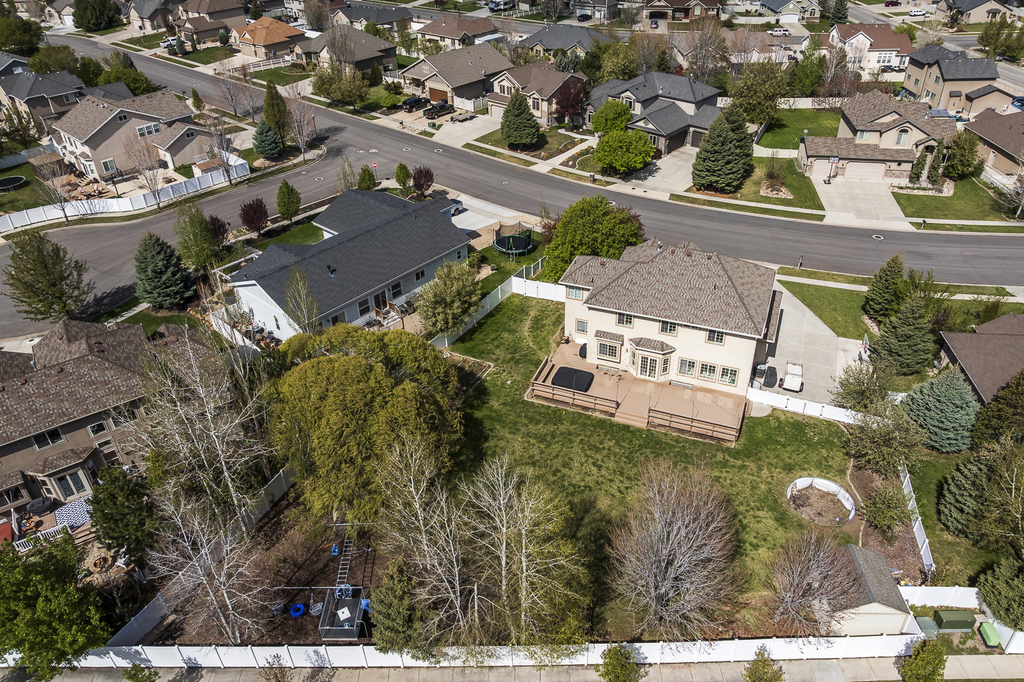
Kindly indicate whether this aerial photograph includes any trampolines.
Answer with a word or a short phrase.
Yes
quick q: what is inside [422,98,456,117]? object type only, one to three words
vehicle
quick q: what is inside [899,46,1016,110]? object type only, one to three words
house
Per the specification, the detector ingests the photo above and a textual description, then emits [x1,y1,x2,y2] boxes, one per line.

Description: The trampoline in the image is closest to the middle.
[494,220,532,261]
